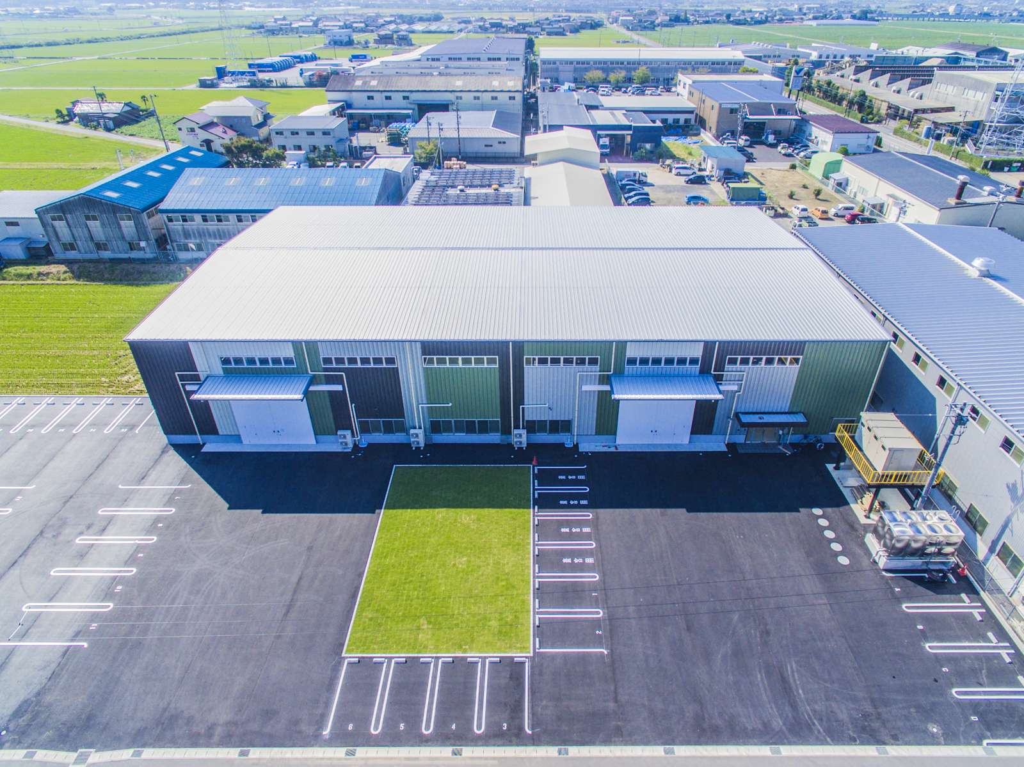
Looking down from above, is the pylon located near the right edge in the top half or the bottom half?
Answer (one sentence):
You can find the pylon located near the right edge in the top half.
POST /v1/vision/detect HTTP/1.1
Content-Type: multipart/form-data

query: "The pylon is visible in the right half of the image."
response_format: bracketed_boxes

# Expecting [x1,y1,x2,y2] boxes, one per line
[956,2,1024,153]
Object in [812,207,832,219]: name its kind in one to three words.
vehicle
